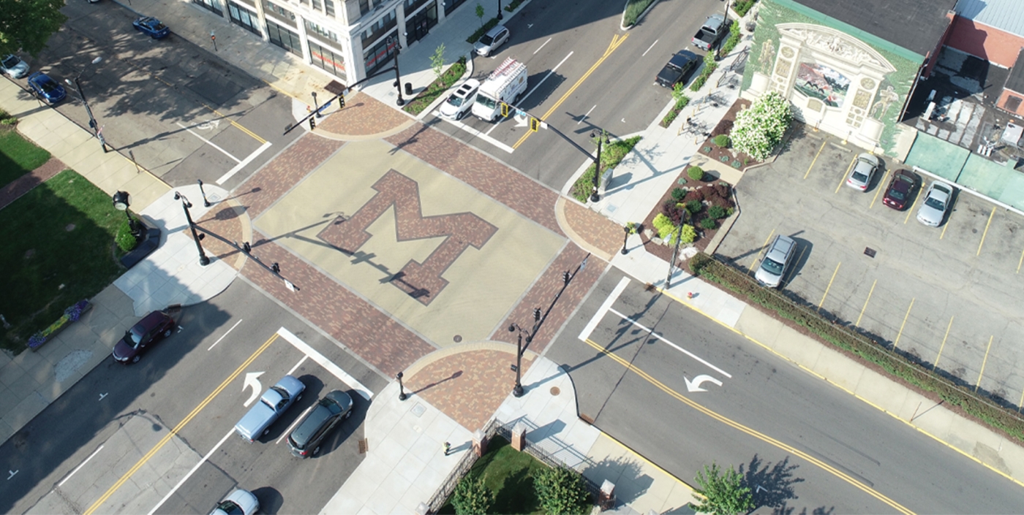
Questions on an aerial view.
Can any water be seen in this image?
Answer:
No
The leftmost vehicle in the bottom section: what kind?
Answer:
car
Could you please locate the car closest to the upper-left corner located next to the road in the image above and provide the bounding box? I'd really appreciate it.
[0,53,32,82]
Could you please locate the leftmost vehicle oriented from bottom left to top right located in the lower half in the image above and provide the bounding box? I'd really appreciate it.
[112,309,180,368]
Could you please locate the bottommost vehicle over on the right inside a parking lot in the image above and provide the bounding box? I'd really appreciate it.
[755,233,797,287]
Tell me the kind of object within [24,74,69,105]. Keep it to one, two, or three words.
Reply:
car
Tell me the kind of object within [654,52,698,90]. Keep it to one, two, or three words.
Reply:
truck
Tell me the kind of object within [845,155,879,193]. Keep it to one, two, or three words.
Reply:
car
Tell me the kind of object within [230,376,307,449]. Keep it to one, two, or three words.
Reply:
truck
